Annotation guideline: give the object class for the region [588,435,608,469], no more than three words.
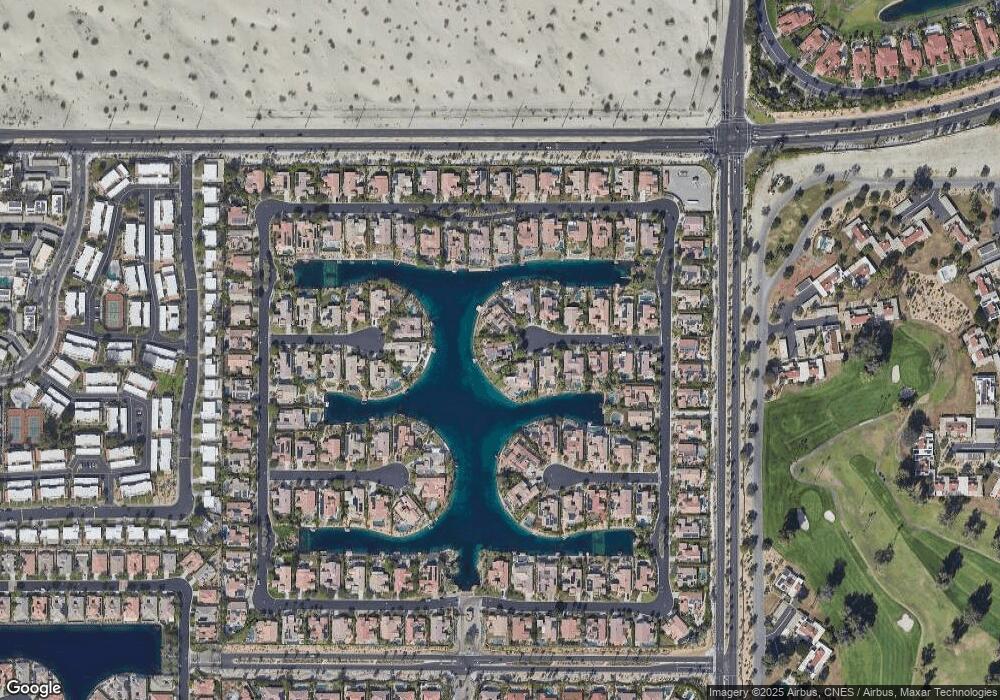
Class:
house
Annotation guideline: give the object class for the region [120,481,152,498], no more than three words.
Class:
building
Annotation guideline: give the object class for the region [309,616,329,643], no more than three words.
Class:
house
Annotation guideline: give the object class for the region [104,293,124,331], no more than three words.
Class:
tennis court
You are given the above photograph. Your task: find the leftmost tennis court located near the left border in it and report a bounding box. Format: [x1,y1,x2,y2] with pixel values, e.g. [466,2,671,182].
[7,408,45,444]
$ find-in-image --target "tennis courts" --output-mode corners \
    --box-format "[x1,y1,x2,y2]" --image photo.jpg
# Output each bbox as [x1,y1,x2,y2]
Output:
[7,408,45,444]
[104,293,124,331]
